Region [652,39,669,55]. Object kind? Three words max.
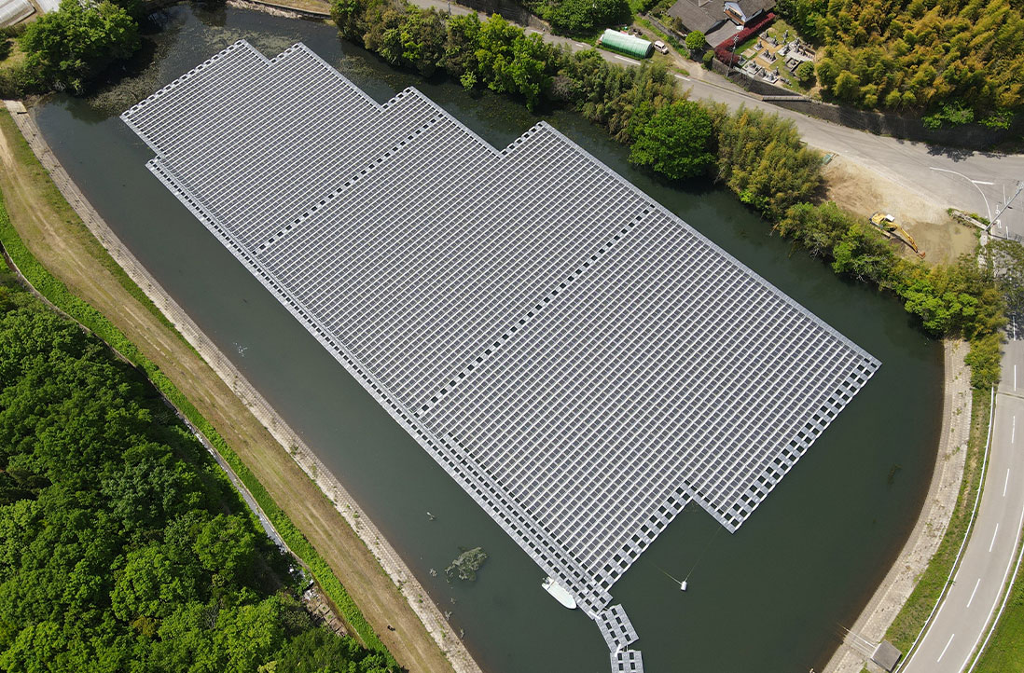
car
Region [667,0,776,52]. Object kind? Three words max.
house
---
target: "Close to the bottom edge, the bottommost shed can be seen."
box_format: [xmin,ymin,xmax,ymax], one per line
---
[865,639,902,672]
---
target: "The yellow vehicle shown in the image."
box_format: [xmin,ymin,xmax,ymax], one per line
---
[869,212,931,258]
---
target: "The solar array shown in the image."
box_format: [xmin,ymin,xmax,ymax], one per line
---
[119,38,883,621]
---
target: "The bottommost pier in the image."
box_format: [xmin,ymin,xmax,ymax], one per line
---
[610,652,643,673]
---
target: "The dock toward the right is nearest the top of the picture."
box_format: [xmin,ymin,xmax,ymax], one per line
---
[595,604,637,652]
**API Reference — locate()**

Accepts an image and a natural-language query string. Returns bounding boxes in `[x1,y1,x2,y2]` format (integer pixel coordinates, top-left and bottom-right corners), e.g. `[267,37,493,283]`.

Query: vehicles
[652,39,669,55]
[869,212,931,258]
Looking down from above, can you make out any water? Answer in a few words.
Yes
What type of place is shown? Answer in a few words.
solar farm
